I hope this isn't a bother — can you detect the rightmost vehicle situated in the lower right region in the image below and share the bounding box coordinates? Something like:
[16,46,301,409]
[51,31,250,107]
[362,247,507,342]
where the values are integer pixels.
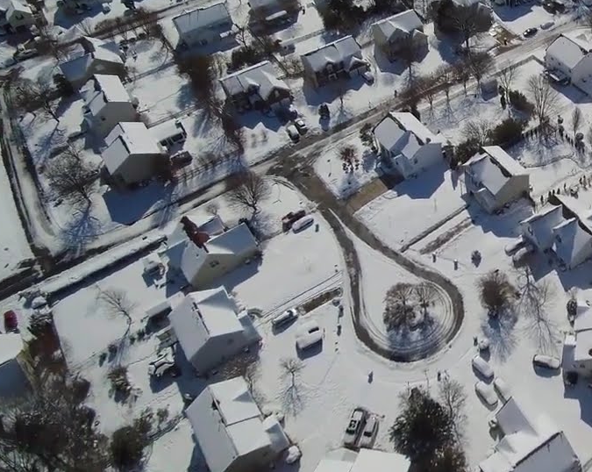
[533,355,559,370]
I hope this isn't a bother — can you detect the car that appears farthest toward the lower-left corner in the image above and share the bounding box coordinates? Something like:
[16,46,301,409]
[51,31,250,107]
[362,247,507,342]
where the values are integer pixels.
[4,309,19,330]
